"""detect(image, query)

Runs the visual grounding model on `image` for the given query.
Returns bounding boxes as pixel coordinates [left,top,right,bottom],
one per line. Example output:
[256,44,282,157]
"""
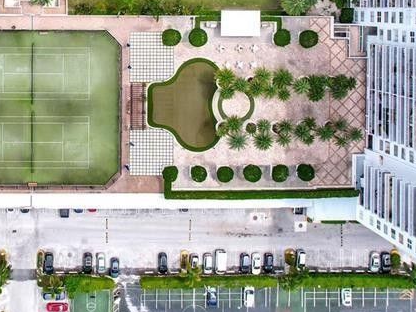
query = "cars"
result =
[179,208,188,215]
[240,250,250,273]
[295,249,306,272]
[96,249,106,272]
[379,249,391,272]
[6,208,14,214]
[189,250,198,264]
[46,301,68,311]
[87,208,96,215]
[74,208,83,216]
[250,251,261,273]
[59,208,69,220]
[243,285,254,308]
[110,256,119,276]
[157,250,167,273]
[339,285,351,307]
[262,250,273,273]
[207,285,217,308]
[202,251,213,274]
[44,250,53,272]
[368,250,379,272]
[83,250,92,273]
[20,208,29,215]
